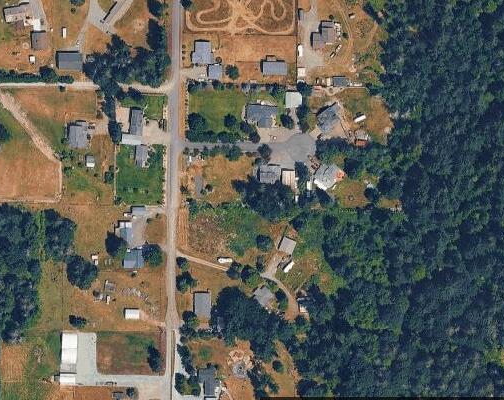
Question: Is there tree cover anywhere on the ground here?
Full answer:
Yes, some tree cover is visible.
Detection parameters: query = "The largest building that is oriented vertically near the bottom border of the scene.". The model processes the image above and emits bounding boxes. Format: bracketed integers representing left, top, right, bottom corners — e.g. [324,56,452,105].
[60,333,77,385]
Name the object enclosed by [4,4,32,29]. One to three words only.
house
